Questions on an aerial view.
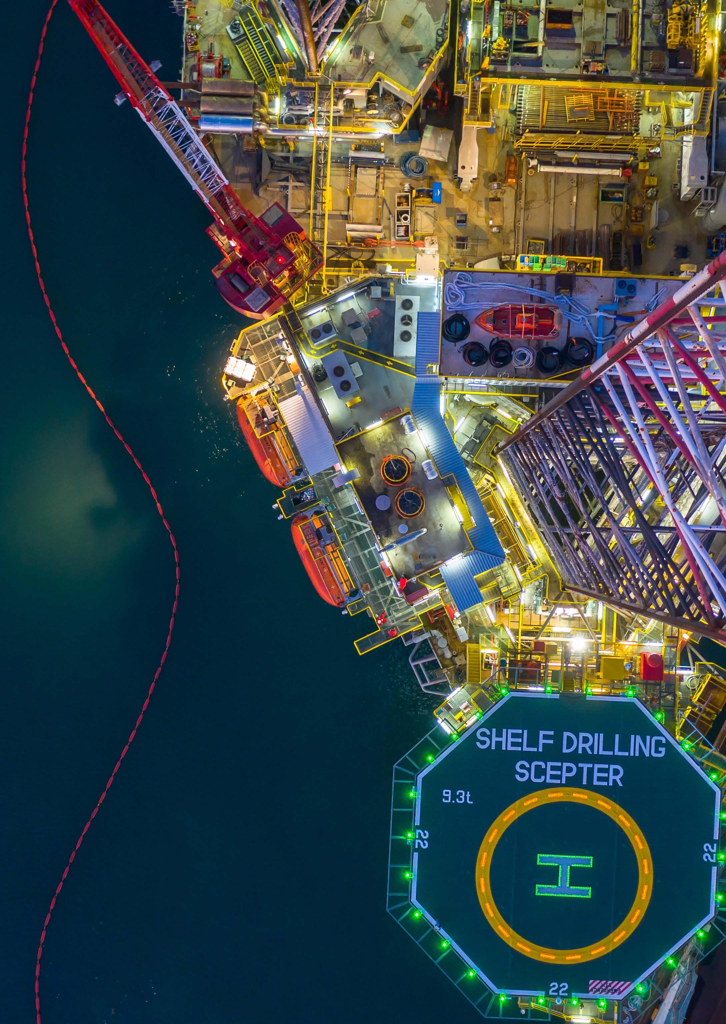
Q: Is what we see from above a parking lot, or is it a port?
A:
port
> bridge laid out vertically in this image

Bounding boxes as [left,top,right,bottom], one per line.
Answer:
[309,83,334,292]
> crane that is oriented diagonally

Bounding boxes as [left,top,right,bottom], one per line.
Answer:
[64,0,326,328]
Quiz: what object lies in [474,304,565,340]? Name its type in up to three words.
boat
